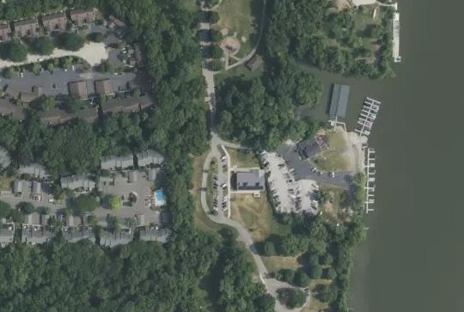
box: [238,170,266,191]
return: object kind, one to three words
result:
building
